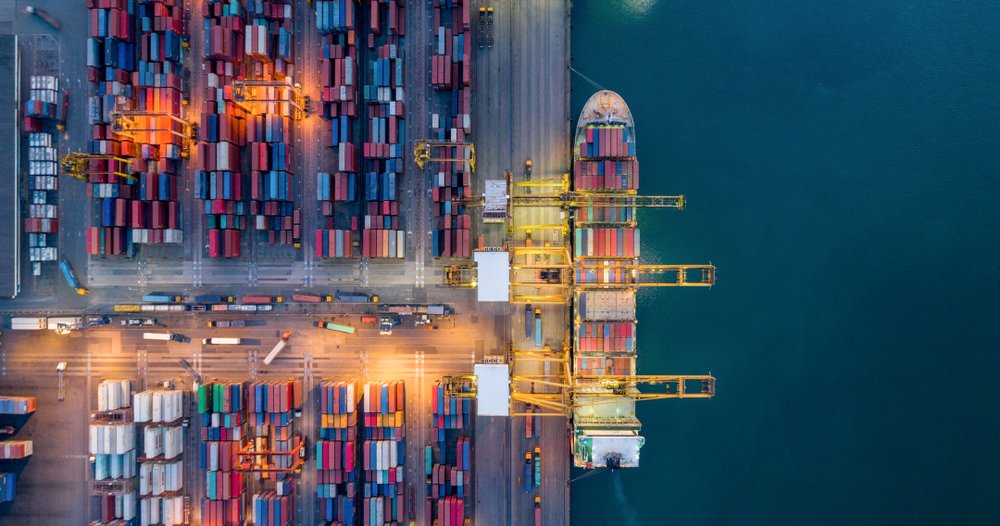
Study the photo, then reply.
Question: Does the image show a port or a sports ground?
port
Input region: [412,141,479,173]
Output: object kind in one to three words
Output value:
crane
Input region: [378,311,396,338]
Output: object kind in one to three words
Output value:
work vehicle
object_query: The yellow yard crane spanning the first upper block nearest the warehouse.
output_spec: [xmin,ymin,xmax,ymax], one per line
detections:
[57,153,142,185]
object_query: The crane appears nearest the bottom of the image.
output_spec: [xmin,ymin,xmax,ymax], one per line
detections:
[228,433,305,471]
